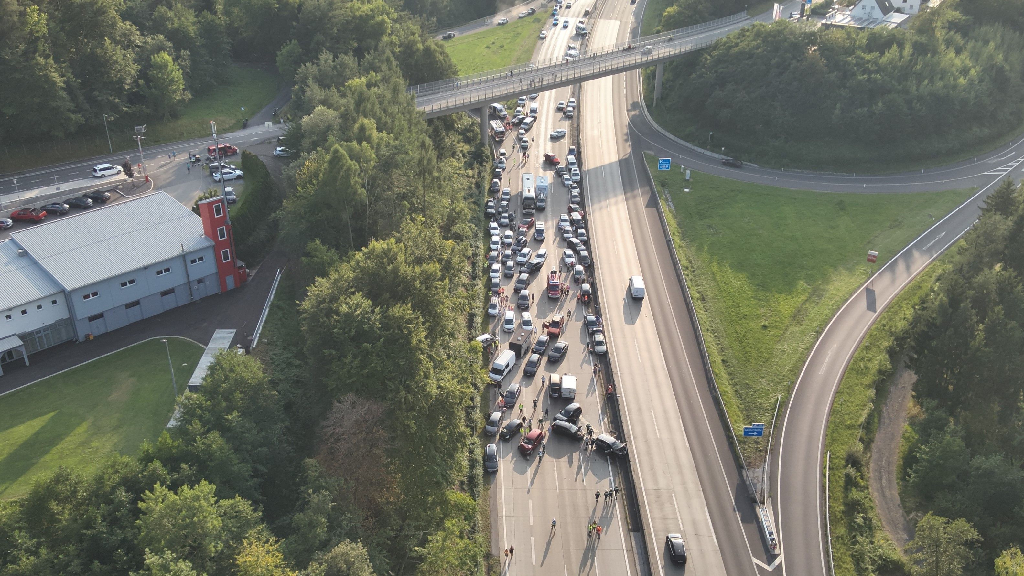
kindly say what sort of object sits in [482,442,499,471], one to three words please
car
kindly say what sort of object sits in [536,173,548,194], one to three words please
vehicle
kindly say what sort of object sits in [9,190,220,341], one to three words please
building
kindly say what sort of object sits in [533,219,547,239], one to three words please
vehicle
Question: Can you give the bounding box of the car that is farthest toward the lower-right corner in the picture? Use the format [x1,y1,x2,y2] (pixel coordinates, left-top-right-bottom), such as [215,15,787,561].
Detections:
[666,531,687,562]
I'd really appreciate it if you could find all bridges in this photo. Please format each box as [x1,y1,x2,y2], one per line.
[405,7,772,147]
